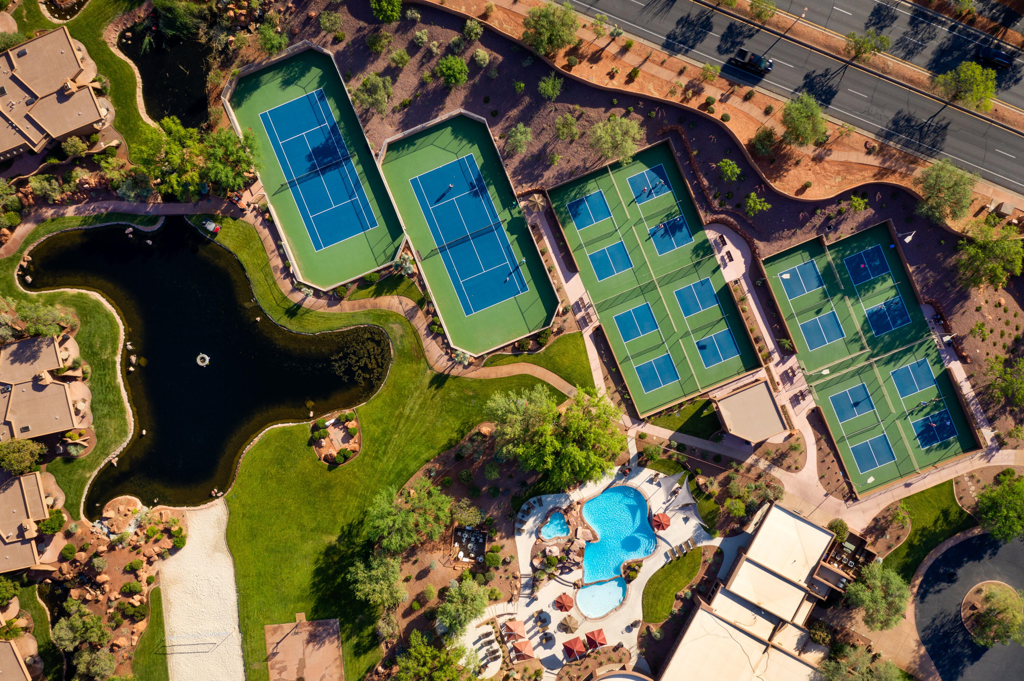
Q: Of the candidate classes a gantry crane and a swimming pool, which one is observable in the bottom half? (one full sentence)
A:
You can see a swimming pool in the bottom half.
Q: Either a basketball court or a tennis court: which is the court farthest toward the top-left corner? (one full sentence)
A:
In the photo, the court farthest toward the top-left corner shows up as a tennis court.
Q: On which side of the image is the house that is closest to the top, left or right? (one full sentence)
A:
You can find the house that is closest to the top on the left side of the picture.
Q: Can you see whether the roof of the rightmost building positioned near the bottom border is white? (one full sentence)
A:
Yes, the roof of the rightmost building positioned near the bottom border is indeed white.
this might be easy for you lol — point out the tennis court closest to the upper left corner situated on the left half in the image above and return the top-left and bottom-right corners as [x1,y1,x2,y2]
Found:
[227,45,406,290]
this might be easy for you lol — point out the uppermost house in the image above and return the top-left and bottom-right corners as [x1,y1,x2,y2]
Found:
[0,25,113,160]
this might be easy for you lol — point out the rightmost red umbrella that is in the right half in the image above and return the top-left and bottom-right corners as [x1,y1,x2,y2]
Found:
[653,514,670,530]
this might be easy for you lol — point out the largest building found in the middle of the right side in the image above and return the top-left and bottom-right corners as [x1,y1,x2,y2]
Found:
[709,378,787,443]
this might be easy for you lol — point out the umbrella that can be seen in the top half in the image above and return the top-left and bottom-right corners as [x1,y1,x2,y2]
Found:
[529,194,546,211]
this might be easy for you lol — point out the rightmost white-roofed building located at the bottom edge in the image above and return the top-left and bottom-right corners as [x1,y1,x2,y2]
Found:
[652,500,853,681]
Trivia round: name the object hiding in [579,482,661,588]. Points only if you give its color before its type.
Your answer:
blue swimming pool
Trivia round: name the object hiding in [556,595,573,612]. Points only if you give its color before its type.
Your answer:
red umbrella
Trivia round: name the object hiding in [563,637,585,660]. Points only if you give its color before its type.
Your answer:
red umbrella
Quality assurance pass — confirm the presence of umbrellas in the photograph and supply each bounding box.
[561,617,578,633]
[529,194,546,211]
[556,595,573,612]
[502,621,525,640]
[563,637,585,660]
[585,629,607,651]
[509,641,534,662]
[653,514,670,530]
